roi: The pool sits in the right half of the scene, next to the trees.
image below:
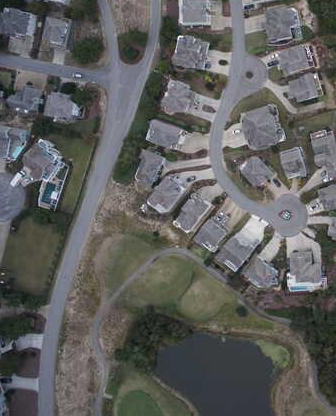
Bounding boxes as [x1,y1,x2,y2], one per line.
[288,279,320,292]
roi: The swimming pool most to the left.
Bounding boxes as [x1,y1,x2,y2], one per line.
[10,139,27,159]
